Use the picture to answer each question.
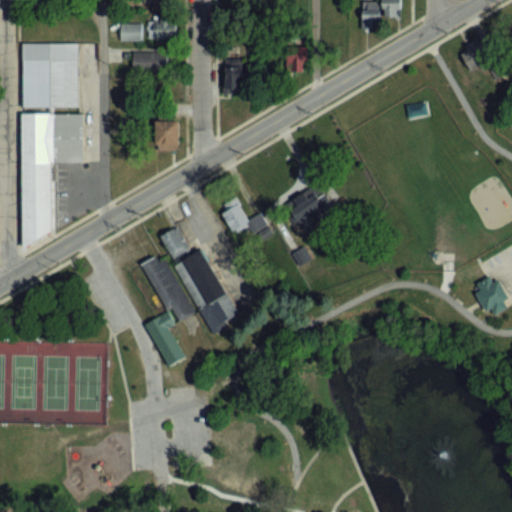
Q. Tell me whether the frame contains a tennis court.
Yes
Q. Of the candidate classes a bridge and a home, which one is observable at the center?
home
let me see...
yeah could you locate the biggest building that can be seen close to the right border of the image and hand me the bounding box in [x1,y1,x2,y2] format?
[476,276,508,313]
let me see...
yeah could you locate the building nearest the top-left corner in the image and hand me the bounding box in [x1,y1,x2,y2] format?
[21,42,80,108]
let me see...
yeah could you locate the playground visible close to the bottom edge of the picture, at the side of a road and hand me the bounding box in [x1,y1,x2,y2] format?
[64,432,130,502]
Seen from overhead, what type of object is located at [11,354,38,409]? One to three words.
tennis court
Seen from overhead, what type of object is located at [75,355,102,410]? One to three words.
tennis court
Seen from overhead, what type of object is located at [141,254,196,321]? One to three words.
shed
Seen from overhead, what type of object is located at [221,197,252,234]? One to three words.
house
